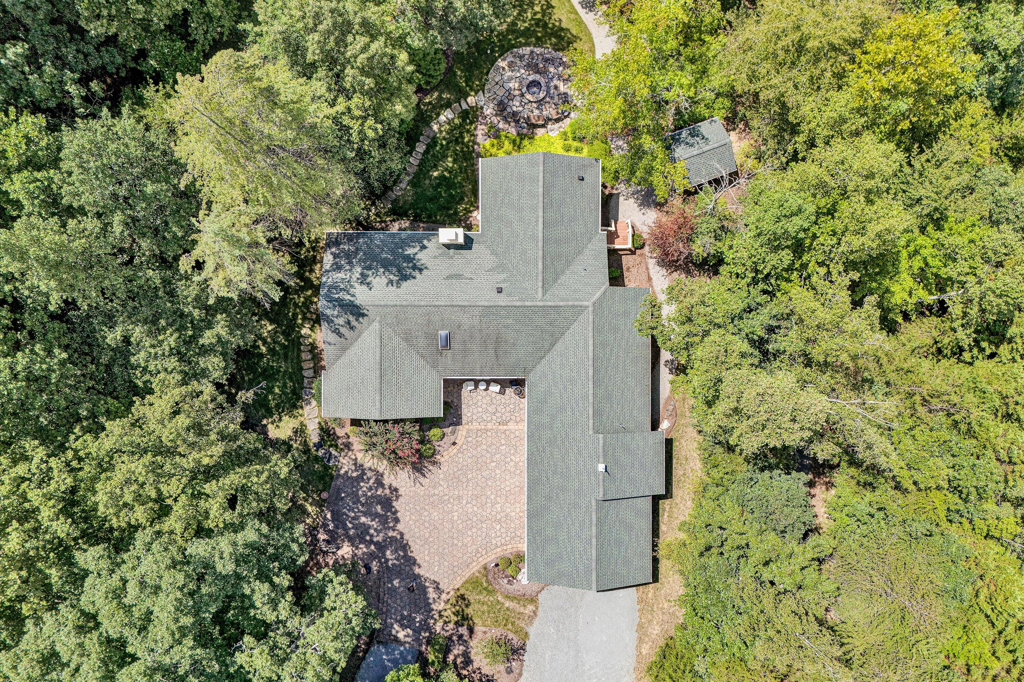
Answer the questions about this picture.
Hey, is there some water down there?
No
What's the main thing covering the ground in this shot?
trees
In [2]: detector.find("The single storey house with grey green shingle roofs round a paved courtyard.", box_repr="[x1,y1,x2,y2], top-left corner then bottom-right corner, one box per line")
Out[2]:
[319,152,666,592]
